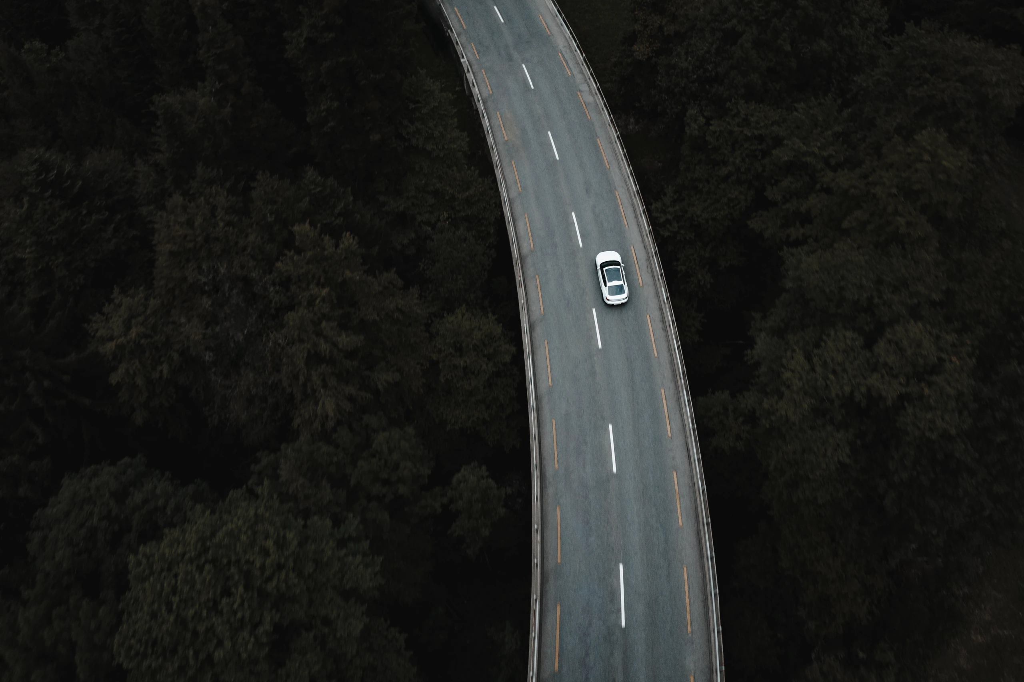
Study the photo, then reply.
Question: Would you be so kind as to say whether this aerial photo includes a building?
No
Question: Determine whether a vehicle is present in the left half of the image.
No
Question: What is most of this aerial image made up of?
trees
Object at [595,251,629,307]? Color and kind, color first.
white car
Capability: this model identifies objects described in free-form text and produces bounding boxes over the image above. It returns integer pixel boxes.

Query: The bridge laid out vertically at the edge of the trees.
[439,0,726,682]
